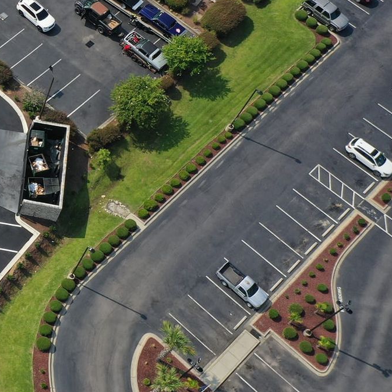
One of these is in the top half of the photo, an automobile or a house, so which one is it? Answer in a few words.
automobile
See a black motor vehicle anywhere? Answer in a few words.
Yes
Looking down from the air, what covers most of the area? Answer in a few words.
paved ground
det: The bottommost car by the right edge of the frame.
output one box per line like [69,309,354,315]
[343,136,392,180]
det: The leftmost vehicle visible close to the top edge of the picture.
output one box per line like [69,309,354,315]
[16,0,56,32]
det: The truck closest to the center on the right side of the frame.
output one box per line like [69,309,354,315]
[212,259,272,313]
